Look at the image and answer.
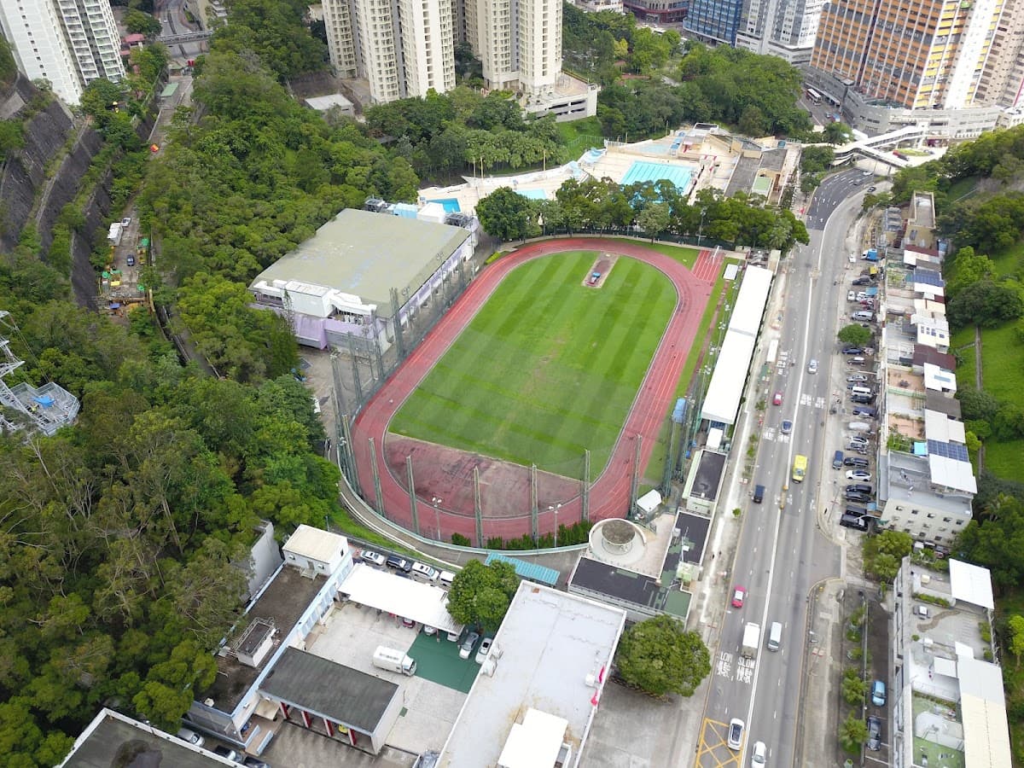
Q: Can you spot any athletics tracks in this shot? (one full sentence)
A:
Yes, you can see an athletics track in this photo.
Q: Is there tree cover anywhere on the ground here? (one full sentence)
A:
Yes, some tree cover is visible.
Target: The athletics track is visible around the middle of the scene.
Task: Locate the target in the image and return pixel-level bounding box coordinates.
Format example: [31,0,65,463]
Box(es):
[350,240,724,546]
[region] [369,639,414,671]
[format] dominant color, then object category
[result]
white truck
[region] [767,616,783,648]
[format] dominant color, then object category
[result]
white vehicle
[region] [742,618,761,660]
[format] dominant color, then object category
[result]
white vehicle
